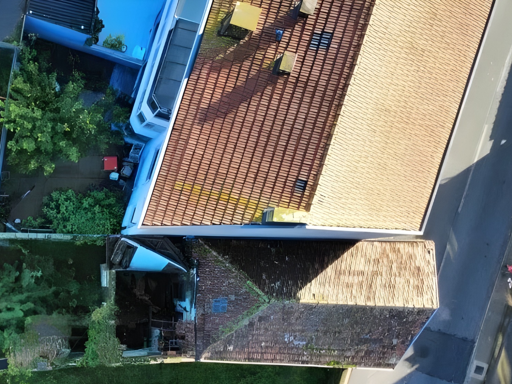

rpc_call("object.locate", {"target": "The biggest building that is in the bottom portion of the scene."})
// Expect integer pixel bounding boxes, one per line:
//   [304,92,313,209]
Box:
[180,231,441,371]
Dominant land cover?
buildings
